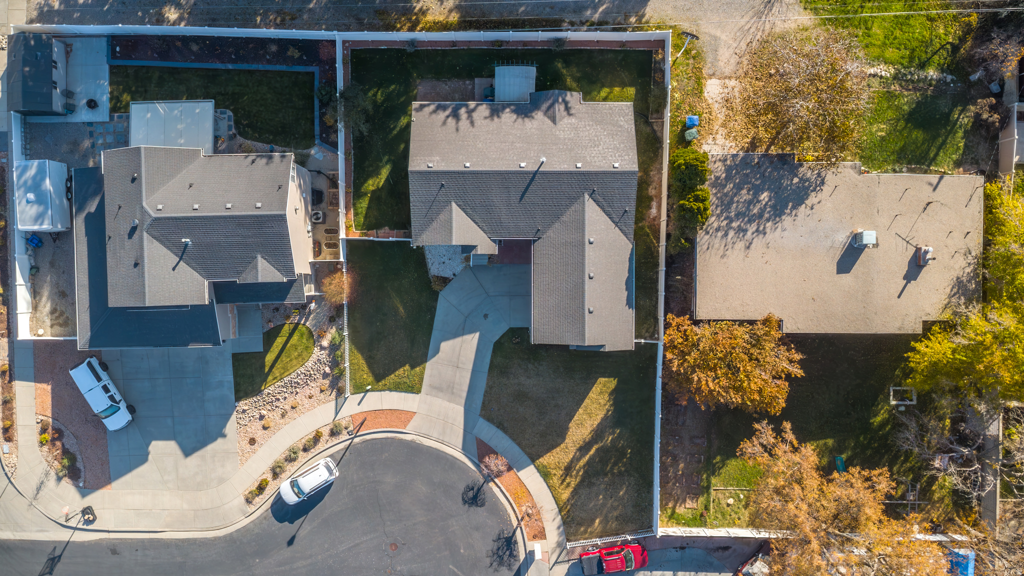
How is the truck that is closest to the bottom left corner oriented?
on a diagonal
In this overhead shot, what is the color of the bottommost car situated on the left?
white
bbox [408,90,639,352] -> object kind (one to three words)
house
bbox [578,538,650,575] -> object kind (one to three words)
truck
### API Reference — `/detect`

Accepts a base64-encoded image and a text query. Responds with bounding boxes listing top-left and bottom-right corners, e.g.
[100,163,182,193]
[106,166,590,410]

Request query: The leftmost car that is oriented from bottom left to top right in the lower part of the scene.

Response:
[277,458,338,507]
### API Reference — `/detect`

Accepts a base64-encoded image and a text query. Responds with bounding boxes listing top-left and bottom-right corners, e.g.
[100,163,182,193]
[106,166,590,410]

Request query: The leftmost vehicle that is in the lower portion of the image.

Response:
[66,359,128,429]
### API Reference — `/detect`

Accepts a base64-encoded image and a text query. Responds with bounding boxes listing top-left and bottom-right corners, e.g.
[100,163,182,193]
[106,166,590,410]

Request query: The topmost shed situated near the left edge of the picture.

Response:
[7,30,66,118]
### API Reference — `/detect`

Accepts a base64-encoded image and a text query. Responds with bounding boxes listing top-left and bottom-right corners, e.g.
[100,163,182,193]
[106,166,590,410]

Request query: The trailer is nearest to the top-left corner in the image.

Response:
[14,157,71,248]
